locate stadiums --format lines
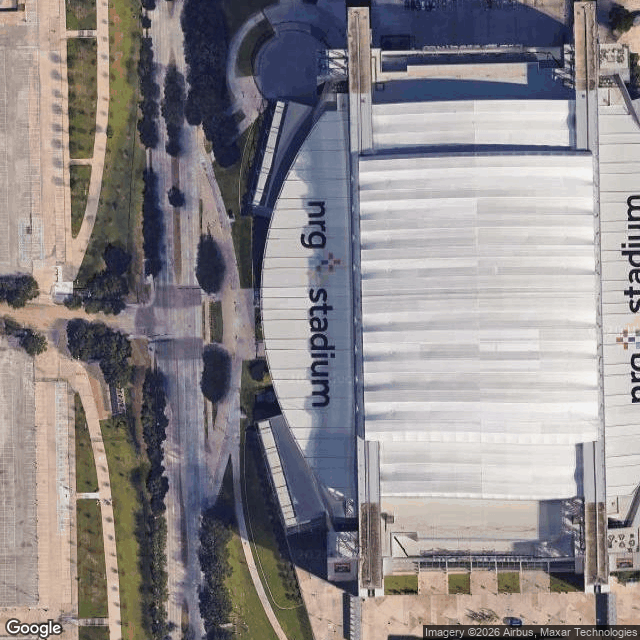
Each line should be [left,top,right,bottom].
[252,2,640,598]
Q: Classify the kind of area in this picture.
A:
sports ground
